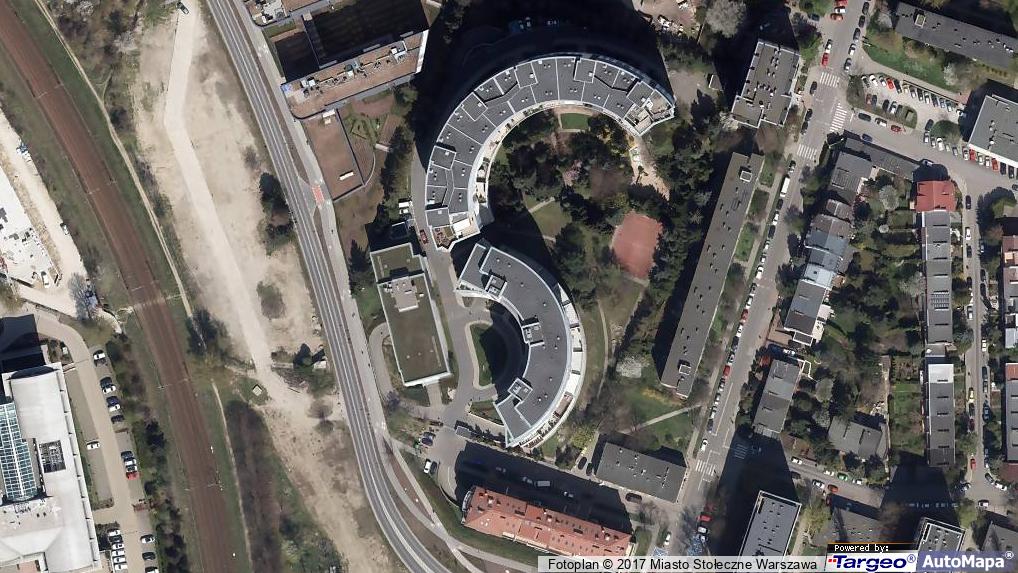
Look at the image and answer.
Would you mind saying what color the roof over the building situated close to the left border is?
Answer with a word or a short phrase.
white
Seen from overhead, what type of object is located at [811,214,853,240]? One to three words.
house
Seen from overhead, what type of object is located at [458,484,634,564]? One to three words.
building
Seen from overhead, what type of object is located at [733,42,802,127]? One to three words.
building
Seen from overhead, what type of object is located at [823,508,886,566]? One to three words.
house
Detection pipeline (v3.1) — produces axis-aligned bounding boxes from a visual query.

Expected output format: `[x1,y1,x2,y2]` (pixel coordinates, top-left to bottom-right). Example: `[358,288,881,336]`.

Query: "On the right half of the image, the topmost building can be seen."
[895,3,1018,72]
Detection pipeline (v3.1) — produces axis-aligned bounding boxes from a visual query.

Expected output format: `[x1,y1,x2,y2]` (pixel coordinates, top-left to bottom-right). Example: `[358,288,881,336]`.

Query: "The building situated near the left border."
[0,362,105,573]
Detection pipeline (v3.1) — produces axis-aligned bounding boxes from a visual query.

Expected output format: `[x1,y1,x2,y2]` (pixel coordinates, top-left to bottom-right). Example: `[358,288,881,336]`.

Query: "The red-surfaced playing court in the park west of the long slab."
[610,211,664,283]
